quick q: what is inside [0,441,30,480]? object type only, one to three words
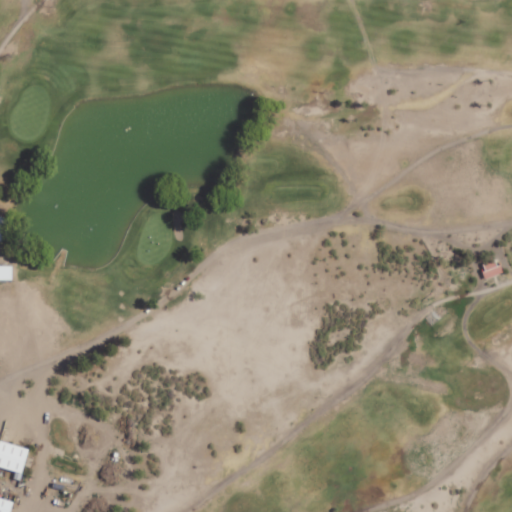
building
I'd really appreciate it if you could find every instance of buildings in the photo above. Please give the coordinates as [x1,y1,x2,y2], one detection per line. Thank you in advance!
[0,441,30,480]
[0,265,12,282]
[482,260,505,281]
[0,498,14,512]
